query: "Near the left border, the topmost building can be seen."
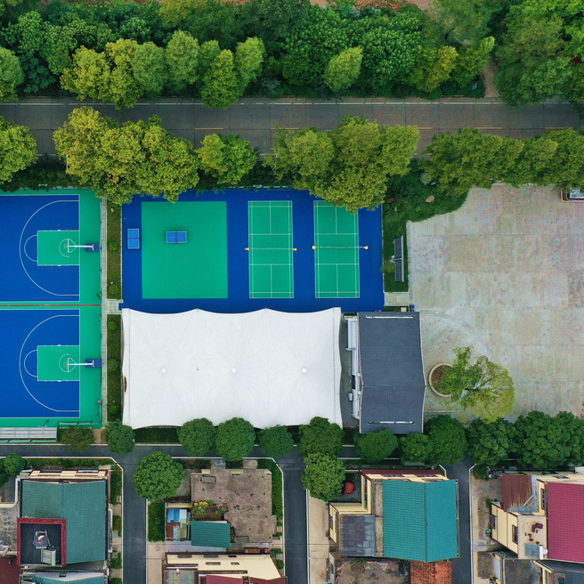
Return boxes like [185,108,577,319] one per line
[0,469,112,566]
